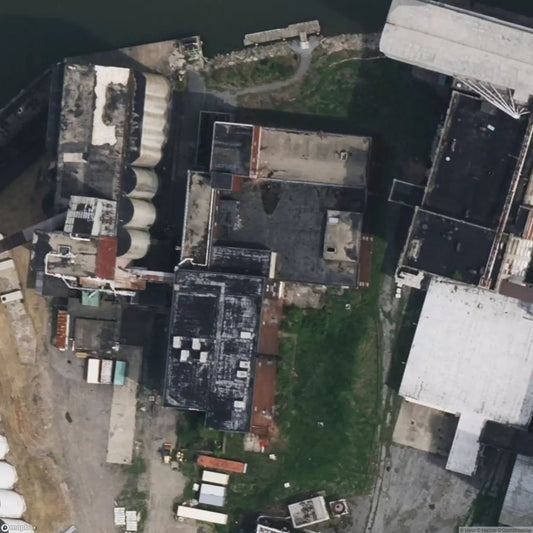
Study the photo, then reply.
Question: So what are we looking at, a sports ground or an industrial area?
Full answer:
This looks like an industrial area.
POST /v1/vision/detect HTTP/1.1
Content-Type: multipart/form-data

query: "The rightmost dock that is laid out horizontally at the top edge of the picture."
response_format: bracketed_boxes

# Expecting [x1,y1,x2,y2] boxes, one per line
[244,20,320,46]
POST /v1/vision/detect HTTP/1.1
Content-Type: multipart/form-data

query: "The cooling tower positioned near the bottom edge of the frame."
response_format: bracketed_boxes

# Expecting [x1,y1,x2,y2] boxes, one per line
[331,498,351,518]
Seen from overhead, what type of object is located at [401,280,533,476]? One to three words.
warehouse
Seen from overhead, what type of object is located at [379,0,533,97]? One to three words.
building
